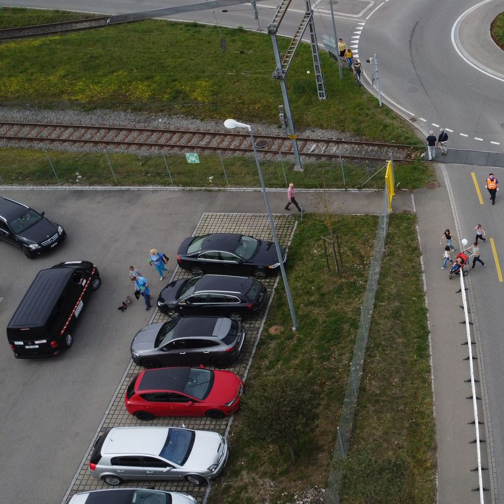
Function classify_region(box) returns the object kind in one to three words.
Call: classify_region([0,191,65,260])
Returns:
car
